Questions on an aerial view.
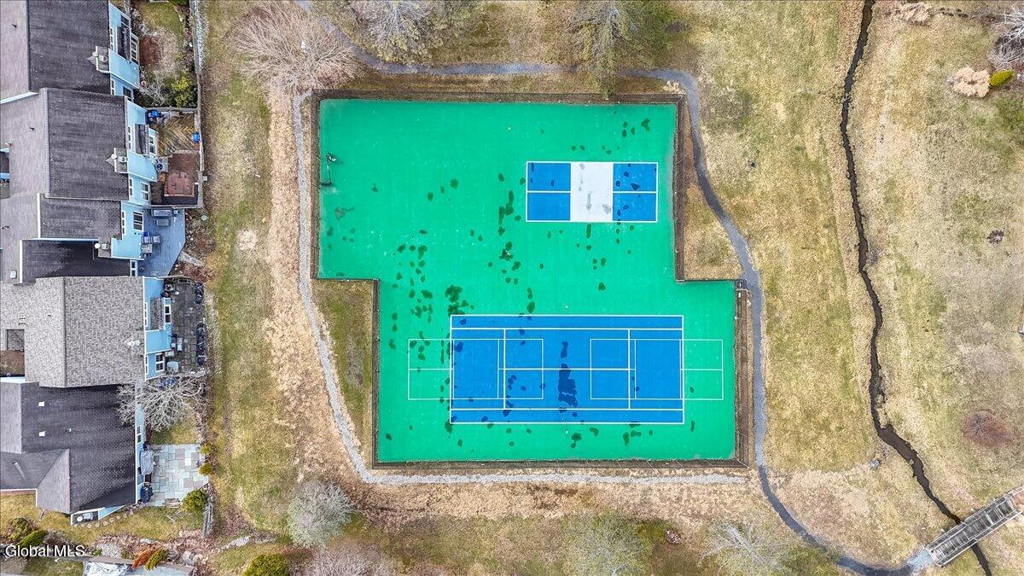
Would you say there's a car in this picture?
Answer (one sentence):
No, no car can be seen from above.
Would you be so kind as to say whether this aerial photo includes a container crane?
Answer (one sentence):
No, there's no container crane here.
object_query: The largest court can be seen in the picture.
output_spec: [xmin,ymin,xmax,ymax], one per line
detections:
[319,99,736,462]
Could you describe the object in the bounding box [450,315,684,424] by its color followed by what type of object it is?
blue tennis court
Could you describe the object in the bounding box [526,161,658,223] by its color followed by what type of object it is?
blue sports court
